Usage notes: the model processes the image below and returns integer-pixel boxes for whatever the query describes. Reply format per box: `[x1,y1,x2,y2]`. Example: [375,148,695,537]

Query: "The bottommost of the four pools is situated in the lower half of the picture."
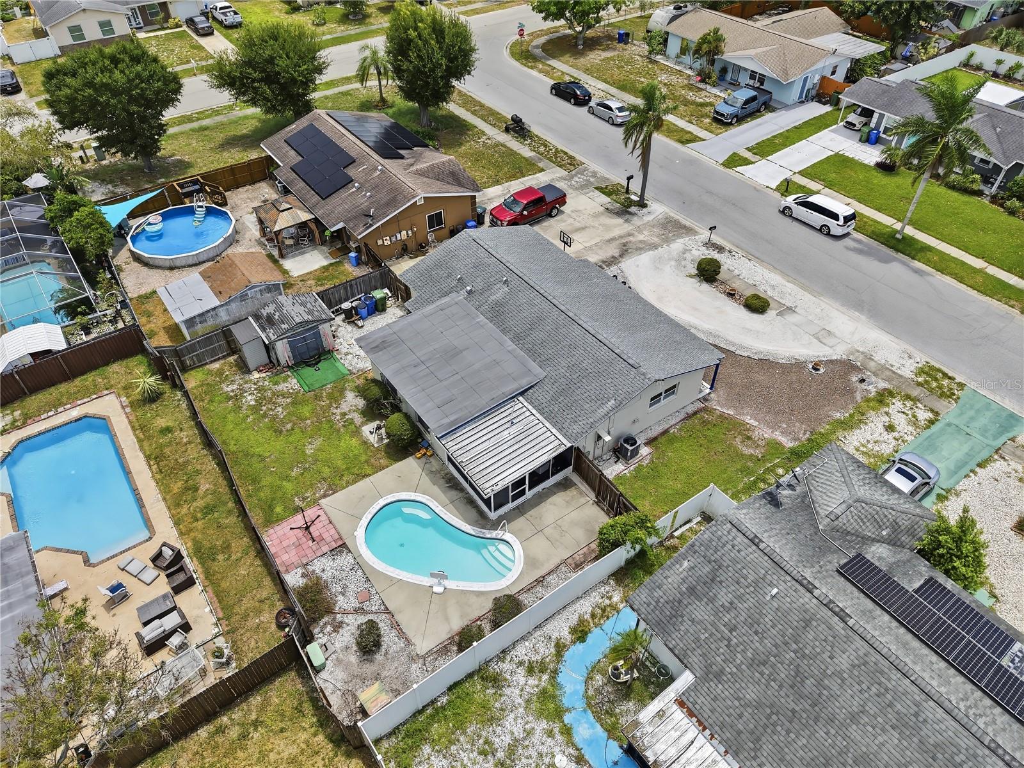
[355,491,524,590]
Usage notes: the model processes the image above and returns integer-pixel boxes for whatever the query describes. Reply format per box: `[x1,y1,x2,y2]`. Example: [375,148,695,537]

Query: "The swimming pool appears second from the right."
[126,202,242,276]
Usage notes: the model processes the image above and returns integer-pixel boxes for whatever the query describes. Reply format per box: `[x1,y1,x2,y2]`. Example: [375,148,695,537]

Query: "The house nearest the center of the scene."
[355,226,723,521]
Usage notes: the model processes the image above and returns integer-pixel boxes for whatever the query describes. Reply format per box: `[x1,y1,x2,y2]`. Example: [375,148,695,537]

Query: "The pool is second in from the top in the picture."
[0,260,73,331]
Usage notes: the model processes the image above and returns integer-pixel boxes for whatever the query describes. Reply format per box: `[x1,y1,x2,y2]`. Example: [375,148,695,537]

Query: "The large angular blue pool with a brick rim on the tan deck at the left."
[0,412,154,566]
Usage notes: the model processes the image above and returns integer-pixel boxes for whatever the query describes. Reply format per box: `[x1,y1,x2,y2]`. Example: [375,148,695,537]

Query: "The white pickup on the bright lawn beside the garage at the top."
[206,0,239,26]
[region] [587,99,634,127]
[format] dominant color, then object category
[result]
gray car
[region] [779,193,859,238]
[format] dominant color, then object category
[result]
white vehicle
